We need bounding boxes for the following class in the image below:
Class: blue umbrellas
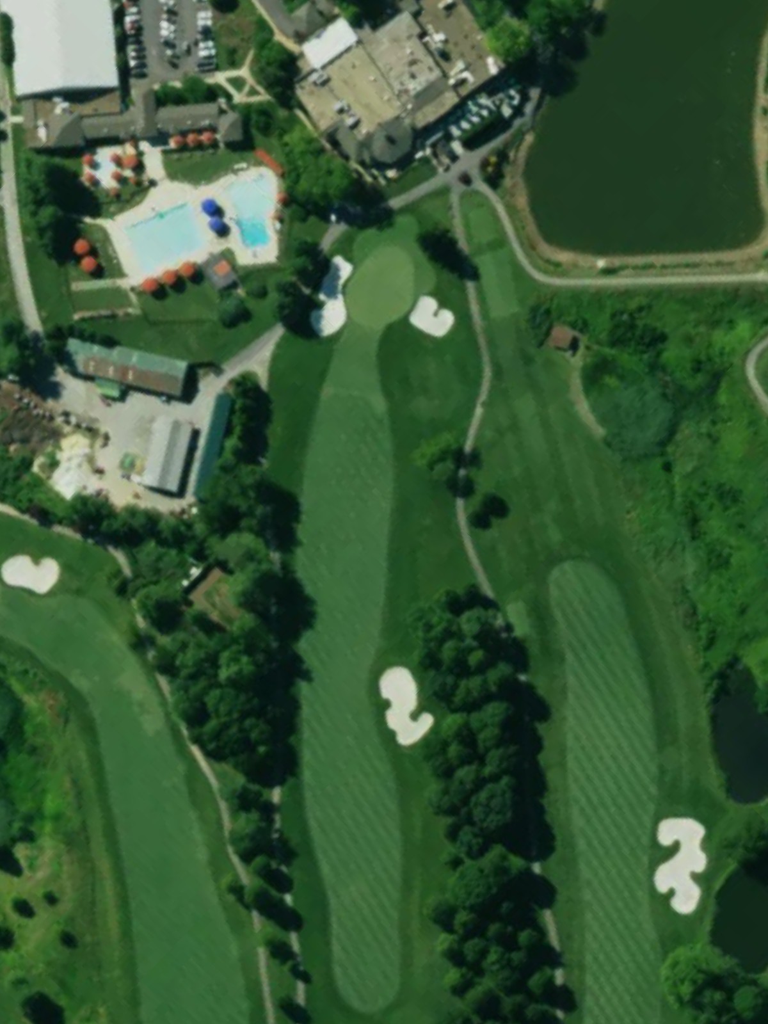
[209,218,225,233]
[202,198,218,215]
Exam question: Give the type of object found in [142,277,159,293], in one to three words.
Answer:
umbrella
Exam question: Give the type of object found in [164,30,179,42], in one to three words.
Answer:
vehicle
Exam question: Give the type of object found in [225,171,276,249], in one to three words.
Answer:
swimming pool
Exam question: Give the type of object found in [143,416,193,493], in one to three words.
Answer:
shed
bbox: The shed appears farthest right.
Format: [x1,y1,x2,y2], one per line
[547,325,578,352]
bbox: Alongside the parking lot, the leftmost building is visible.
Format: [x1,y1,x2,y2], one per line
[7,0,118,95]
